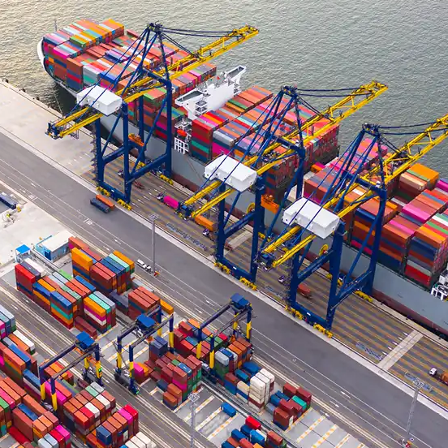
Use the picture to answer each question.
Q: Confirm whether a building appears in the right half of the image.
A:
No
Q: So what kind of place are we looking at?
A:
port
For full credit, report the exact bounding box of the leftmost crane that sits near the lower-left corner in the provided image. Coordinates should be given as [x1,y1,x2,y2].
[37,332,101,425]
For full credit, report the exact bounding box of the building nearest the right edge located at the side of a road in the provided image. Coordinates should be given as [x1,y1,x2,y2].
[33,223,86,264]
